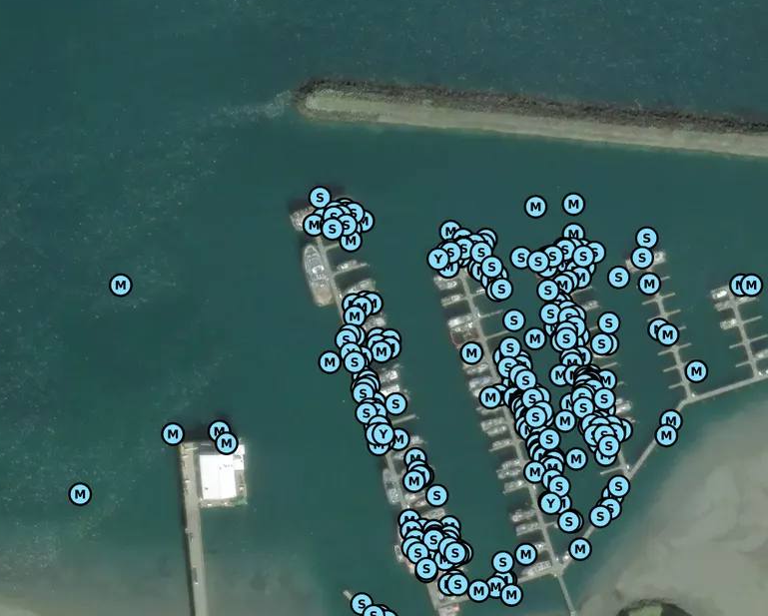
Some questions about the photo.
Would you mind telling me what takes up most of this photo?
water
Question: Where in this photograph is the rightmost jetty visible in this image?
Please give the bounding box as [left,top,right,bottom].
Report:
[709,288,768,379]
